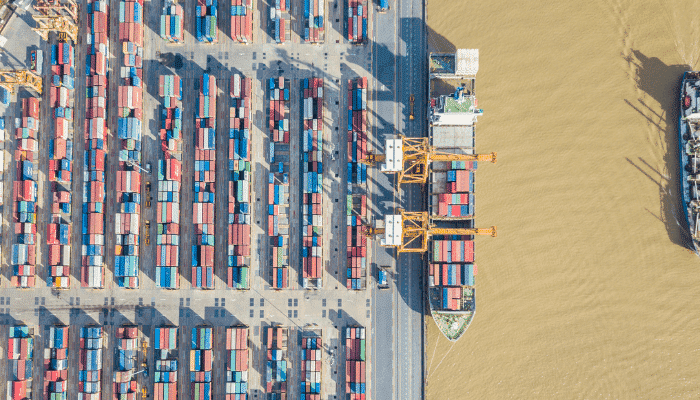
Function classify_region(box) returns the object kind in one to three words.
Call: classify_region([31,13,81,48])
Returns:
container crane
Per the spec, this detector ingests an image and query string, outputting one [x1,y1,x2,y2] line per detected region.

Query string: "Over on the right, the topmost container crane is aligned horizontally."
[364,136,495,196]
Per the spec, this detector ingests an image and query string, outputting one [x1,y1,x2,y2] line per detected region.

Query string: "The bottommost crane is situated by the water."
[364,209,495,263]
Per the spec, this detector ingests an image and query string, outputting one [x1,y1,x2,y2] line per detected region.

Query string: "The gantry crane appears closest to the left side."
[0,66,44,97]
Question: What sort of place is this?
port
